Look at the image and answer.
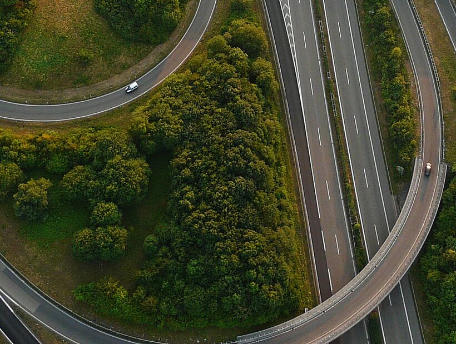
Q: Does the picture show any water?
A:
No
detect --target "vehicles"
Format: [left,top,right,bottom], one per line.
[125,80,139,92]
[423,163,431,176]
